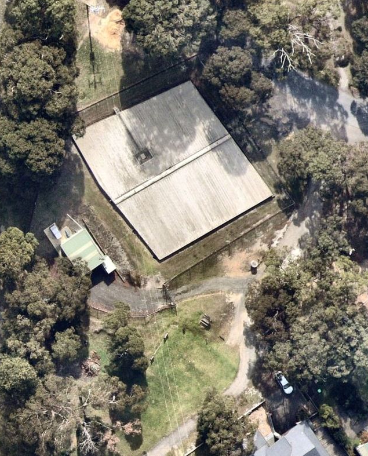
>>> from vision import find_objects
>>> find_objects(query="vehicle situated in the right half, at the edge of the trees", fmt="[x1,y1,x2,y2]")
[278,380,292,394]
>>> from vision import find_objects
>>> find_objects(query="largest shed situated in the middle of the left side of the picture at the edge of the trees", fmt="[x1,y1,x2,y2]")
[61,229,105,270]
